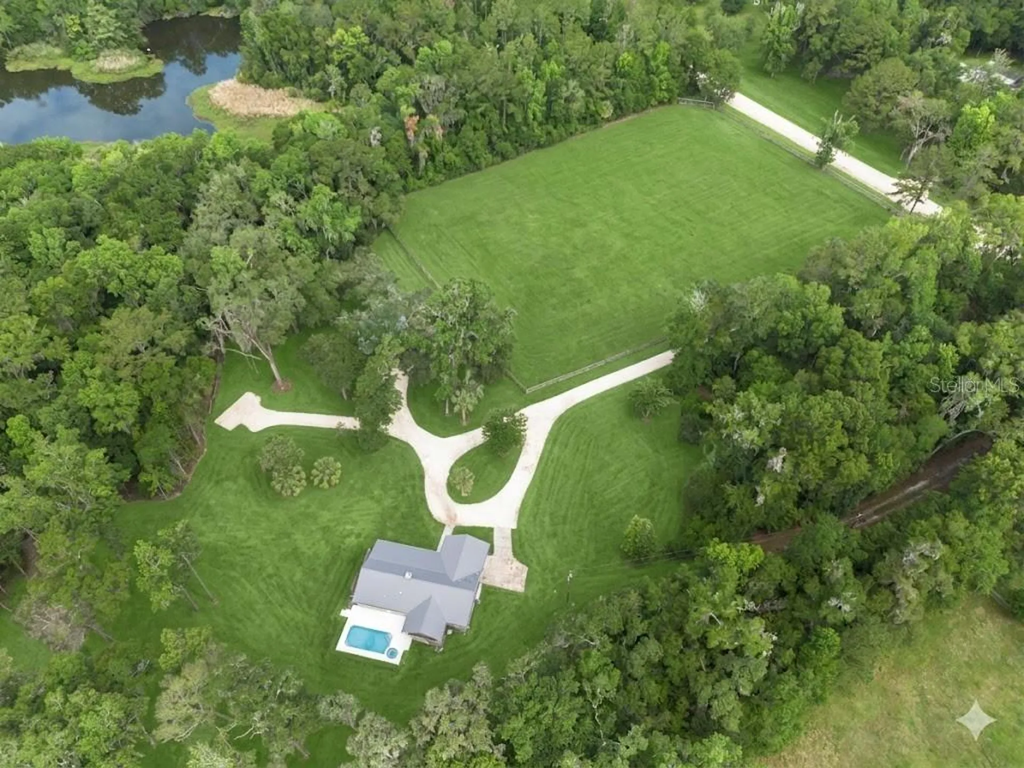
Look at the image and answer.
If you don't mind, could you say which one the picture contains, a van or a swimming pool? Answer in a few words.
swimming pool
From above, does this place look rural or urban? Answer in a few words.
rural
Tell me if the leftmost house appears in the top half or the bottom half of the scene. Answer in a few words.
bottom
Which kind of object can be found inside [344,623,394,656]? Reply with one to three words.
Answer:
swimming pool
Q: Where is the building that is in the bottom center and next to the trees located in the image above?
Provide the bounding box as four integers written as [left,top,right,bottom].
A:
[352,535,490,647]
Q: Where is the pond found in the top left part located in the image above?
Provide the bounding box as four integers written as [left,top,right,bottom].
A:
[0,6,299,147]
